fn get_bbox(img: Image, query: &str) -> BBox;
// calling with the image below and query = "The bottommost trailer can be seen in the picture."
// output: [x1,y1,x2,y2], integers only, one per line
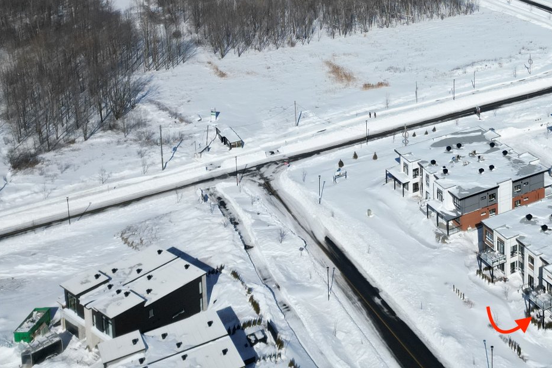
[22,331,68,367]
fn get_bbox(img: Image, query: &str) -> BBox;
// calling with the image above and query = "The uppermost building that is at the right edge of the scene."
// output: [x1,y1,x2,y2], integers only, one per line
[387,129,552,235]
